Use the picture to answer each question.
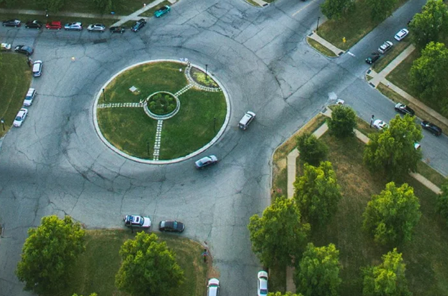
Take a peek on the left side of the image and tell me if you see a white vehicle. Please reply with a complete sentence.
Yes, a white vehicle appears on the left side of the image.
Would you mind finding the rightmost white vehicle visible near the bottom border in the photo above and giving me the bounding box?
[256,273,269,296]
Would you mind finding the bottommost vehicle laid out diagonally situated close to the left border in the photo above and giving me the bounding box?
[12,107,30,128]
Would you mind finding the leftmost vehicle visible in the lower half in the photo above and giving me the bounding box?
[124,215,151,229]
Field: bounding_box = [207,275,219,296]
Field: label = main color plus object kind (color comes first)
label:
white vehicle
